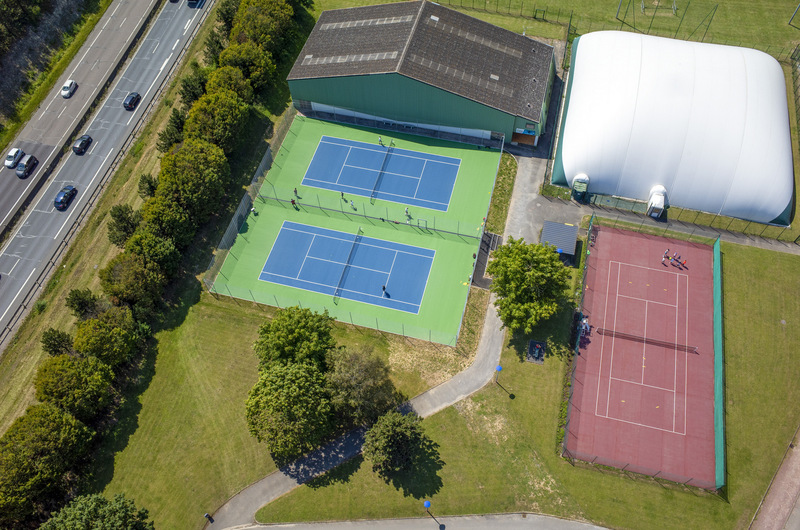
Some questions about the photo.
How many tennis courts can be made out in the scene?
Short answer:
3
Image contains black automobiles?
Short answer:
Yes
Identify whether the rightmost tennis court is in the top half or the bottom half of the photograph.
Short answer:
bottom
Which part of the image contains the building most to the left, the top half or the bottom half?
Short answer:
top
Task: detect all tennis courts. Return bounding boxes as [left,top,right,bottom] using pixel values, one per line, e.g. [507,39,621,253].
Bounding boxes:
[565,224,722,493]
[256,116,500,240]
[213,199,480,345]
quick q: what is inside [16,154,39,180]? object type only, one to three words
car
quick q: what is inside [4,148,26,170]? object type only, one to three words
car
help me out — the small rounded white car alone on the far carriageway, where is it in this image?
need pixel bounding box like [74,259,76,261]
[60,81,77,98]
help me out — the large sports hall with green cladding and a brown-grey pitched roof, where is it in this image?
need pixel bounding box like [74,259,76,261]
[286,0,556,148]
